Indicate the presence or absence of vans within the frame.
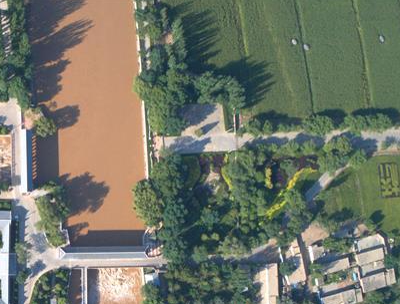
No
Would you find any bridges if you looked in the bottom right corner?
No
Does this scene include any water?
Yes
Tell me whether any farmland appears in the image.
Yes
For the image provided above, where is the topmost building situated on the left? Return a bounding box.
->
[20,128,33,191]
